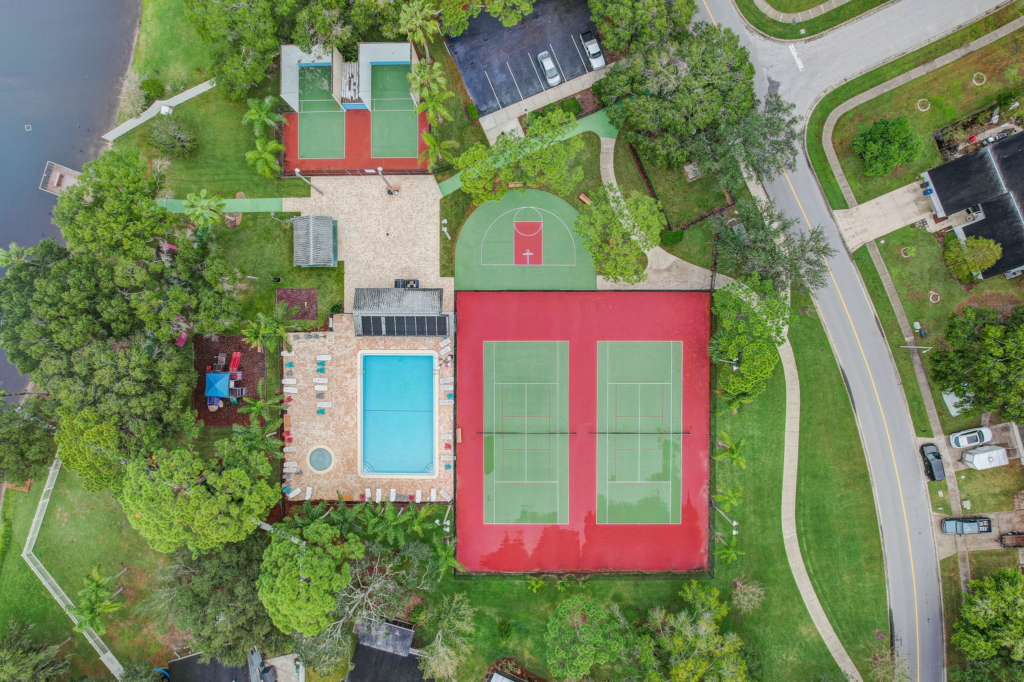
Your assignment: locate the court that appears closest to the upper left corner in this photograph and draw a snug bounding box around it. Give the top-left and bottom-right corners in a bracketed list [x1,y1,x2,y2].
[279,42,358,173]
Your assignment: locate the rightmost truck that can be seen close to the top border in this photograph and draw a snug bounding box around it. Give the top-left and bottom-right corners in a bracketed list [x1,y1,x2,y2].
[577,26,606,73]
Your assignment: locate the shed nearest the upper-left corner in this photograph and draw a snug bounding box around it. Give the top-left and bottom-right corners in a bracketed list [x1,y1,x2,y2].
[342,60,368,111]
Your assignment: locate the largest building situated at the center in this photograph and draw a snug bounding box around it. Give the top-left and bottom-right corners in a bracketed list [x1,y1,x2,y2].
[353,288,454,336]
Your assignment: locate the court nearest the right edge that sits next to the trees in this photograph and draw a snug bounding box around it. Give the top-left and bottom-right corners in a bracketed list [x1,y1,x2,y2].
[583,291,710,572]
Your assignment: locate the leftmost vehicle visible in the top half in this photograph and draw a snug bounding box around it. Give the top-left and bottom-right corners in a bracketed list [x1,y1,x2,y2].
[536,49,560,89]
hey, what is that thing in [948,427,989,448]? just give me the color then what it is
white car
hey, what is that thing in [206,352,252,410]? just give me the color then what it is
blue playground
